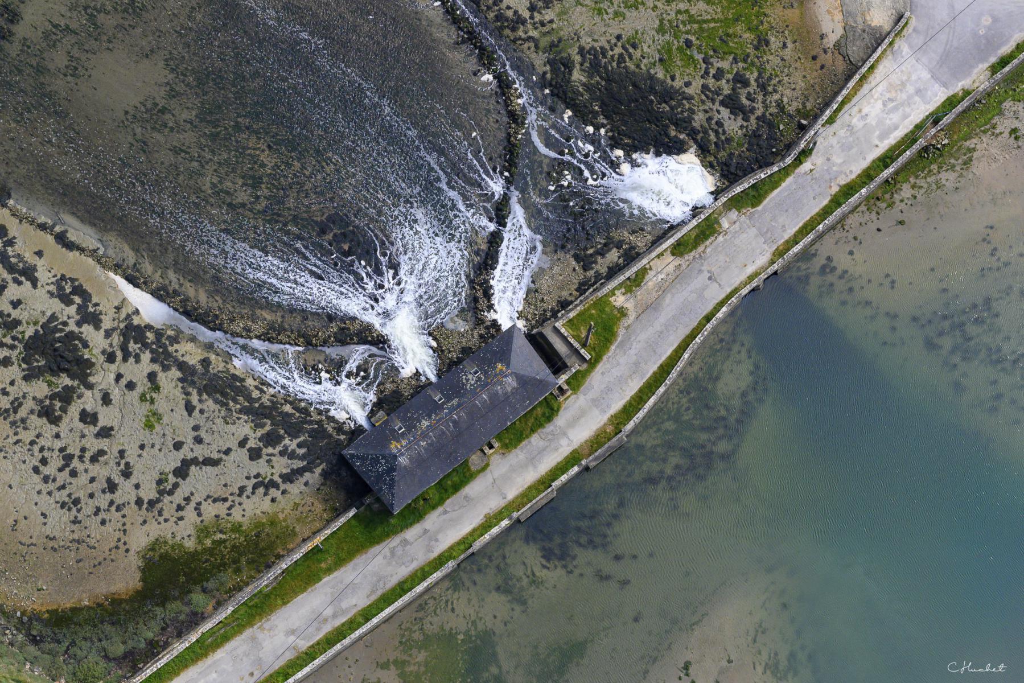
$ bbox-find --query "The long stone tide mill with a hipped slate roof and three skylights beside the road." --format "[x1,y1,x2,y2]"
[341,325,558,514]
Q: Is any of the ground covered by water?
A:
Yes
